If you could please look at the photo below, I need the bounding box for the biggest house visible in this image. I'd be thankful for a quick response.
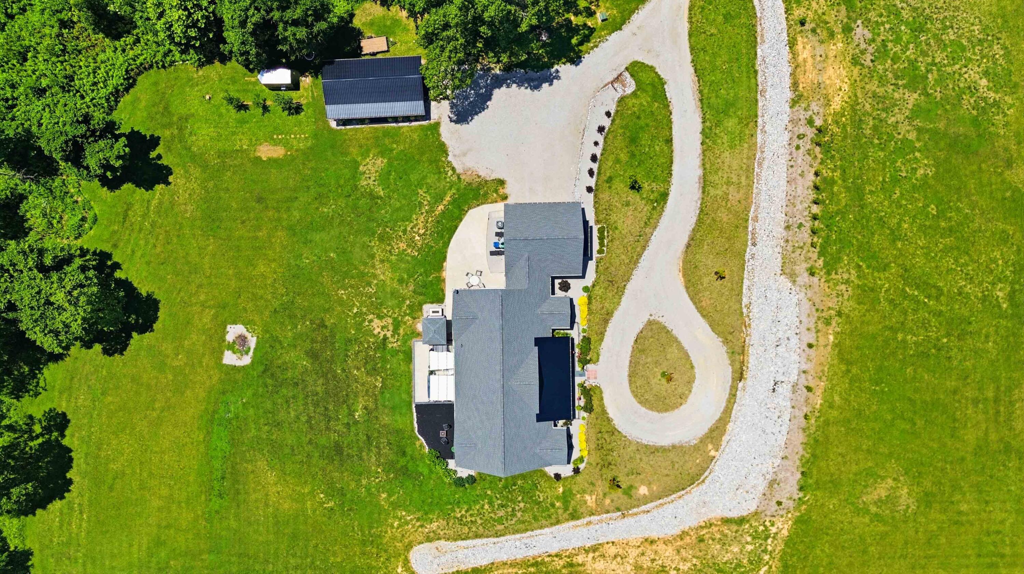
[451,201,590,477]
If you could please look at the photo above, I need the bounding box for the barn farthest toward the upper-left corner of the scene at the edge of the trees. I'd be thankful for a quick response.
[321,55,425,123]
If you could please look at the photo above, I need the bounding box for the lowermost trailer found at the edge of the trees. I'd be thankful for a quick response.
[255,69,294,89]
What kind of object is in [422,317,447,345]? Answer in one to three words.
shed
